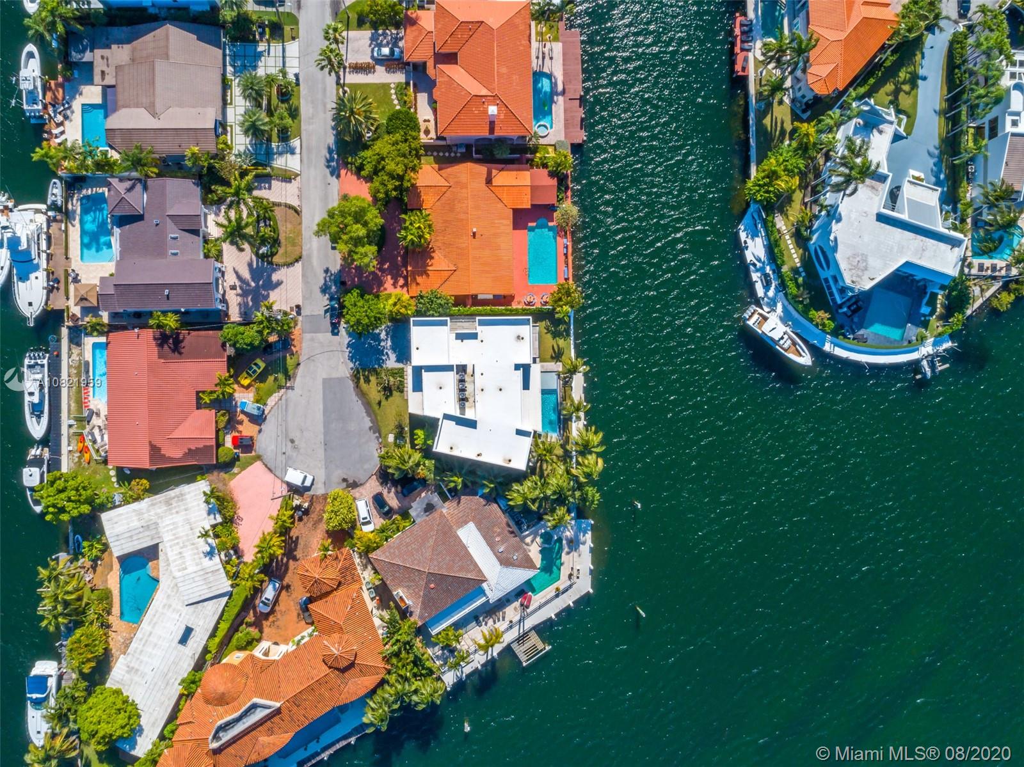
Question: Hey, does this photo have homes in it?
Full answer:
Yes, a home is visible in the scene.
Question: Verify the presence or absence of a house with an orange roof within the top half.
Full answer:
Yes, a house with an orange roof is visible within the top half.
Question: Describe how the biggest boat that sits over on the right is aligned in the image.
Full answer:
The biggest boat that sits over on the right has been laid out on a diagonal relative to the frame.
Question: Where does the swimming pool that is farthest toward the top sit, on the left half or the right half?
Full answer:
You can find the swimming pool that is farthest toward the top on the right side of the picture.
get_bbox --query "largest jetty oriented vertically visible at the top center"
[559,11,584,145]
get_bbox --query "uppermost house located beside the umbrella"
[97,178,225,311]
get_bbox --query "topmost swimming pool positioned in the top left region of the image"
[79,101,113,152]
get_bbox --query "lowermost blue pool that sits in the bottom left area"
[118,553,160,626]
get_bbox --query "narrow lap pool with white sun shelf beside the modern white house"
[539,369,561,437]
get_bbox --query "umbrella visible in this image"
[74,284,98,307]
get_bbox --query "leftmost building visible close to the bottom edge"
[102,480,231,755]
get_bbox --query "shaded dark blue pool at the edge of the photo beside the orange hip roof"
[759,0,786,41]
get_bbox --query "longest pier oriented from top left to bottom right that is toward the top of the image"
[736,204,952,364]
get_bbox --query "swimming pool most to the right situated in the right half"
[969,222,1024,262]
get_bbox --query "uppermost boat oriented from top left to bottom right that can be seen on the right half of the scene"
[740,303,809,362]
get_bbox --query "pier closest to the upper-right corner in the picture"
[734,16,749,76]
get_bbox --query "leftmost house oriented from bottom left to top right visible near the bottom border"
[157,547,385,767]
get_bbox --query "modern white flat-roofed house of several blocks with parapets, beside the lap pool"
[404,317,541,470]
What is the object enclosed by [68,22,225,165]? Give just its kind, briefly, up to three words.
house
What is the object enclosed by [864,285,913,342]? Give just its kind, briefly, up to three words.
swimming pool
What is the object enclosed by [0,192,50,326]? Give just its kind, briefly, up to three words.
boat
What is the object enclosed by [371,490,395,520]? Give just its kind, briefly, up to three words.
car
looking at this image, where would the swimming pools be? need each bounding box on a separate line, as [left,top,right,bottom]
[520,531,564,597]
[864,285,913,342]
[539,369,561,437]
[759,0,786,41]
[118,553,160,626]
[526,216,559,286]
[79,101,113,152]
[77,190,116,265]
[89,340,108,406]
[532,69,555,137]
